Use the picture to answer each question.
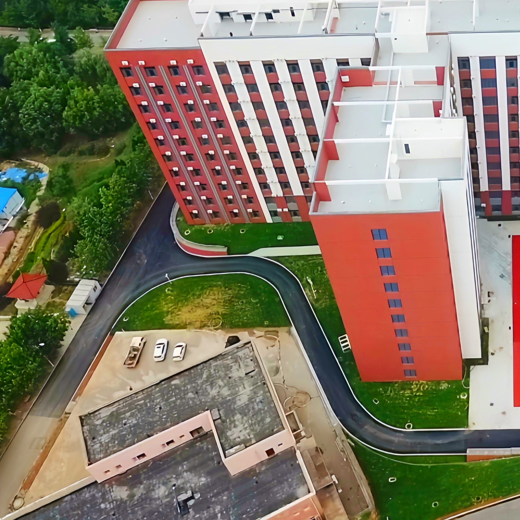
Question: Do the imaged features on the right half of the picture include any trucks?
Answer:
No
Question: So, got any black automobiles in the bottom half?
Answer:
No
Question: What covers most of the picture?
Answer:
buildings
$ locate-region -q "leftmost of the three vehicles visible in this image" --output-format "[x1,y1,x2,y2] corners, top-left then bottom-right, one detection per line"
[119,332,144,370]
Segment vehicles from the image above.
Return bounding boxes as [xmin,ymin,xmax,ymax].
[151,334,168,363]
[170,338,187,363]
[119,332,144,370]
